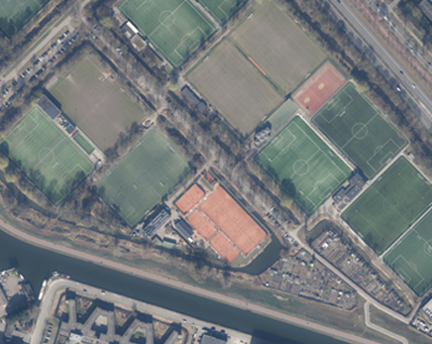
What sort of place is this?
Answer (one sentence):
The picture captures a sports ground.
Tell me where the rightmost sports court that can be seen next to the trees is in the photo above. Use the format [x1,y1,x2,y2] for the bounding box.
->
[293,62,346,115]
